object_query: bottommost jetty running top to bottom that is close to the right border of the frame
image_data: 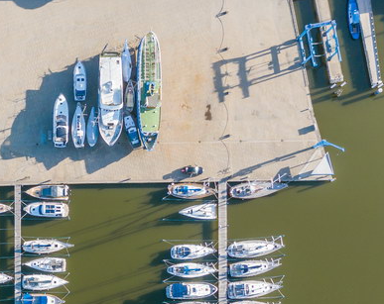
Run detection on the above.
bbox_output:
[360,12,383,86]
